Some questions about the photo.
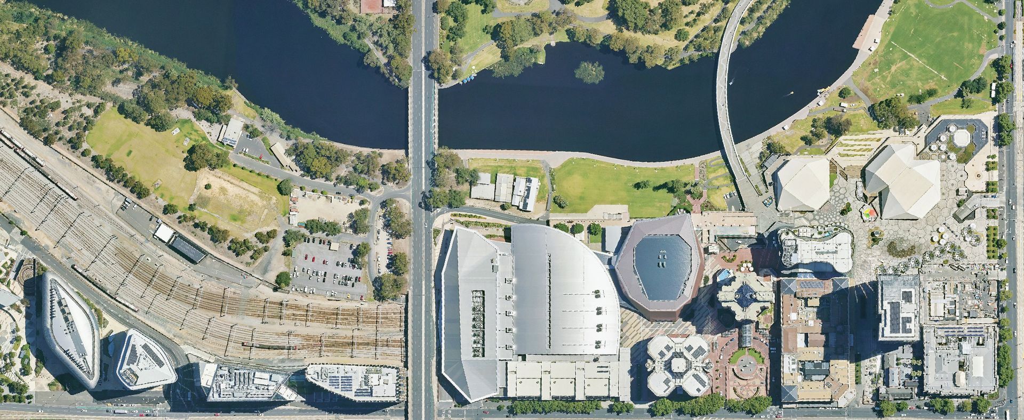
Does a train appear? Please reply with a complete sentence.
Yes, looking at the shot, I can spot a train.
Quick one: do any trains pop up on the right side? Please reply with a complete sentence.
No, there's no train to be seen on the right side.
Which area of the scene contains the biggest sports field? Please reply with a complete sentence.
The biggest sports field appears toward the left of the photo.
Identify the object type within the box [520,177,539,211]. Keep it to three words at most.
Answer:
shed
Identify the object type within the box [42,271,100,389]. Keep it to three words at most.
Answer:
building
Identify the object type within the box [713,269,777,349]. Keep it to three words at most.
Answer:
building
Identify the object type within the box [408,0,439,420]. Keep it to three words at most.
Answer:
bridge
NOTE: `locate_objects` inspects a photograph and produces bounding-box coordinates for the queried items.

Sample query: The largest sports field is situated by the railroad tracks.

[87,107,291,240]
